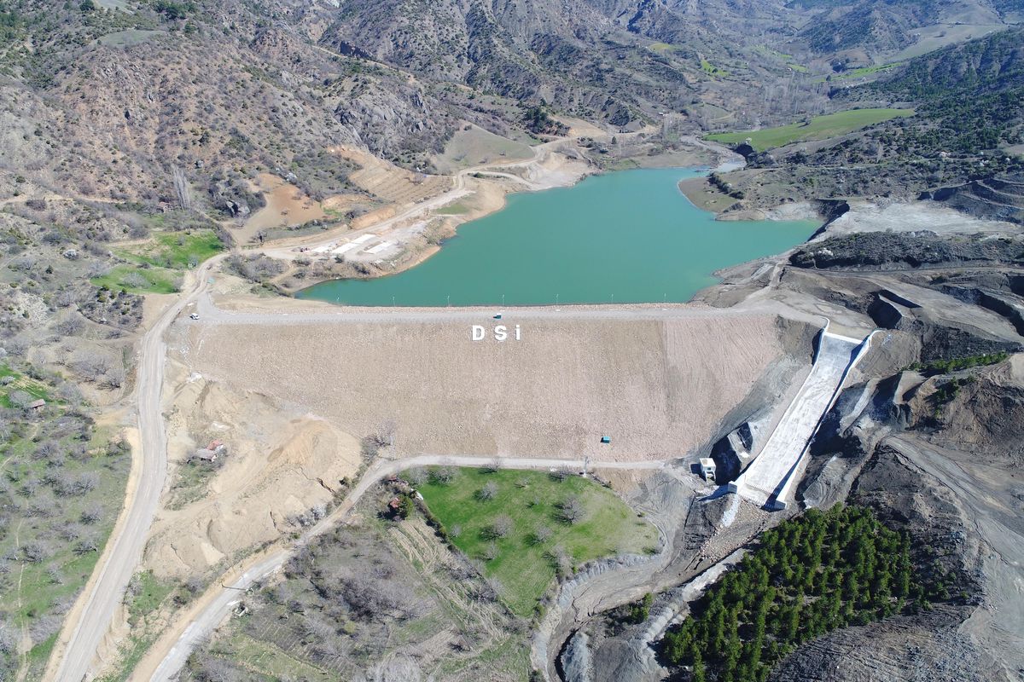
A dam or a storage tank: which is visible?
dam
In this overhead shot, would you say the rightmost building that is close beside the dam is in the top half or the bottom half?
bottom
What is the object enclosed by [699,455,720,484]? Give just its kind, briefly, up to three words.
building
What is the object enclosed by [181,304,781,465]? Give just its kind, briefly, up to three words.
dam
